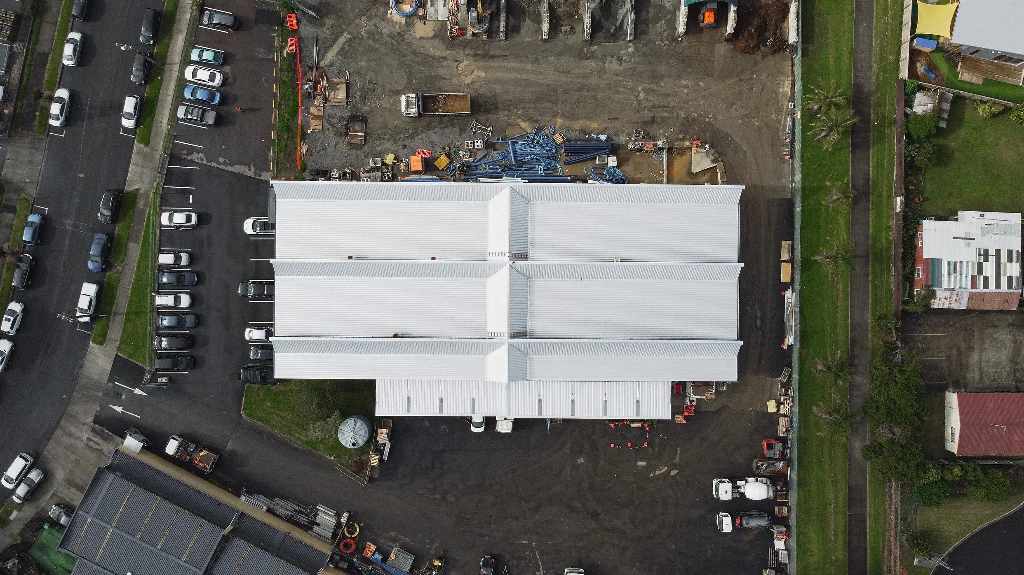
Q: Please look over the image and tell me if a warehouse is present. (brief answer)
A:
Yes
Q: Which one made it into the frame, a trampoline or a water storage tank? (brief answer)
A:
water storage tank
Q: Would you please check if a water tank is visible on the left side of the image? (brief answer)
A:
Yes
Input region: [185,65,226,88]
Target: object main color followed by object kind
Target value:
white car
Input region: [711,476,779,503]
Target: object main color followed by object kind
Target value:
white truck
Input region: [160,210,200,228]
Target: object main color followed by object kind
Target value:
white car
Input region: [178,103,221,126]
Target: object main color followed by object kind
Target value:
gray vehicle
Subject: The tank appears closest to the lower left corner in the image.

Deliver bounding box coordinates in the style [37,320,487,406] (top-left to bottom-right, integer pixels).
[339,413,374,448]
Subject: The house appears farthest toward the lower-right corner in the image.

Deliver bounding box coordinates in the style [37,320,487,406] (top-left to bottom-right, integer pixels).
[946,391,1024,457]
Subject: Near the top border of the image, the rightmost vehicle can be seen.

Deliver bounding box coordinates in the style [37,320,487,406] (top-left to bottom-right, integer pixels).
[696,1,718,27]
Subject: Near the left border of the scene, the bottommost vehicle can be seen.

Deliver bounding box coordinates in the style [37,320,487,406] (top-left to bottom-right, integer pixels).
[46,501,73,528]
